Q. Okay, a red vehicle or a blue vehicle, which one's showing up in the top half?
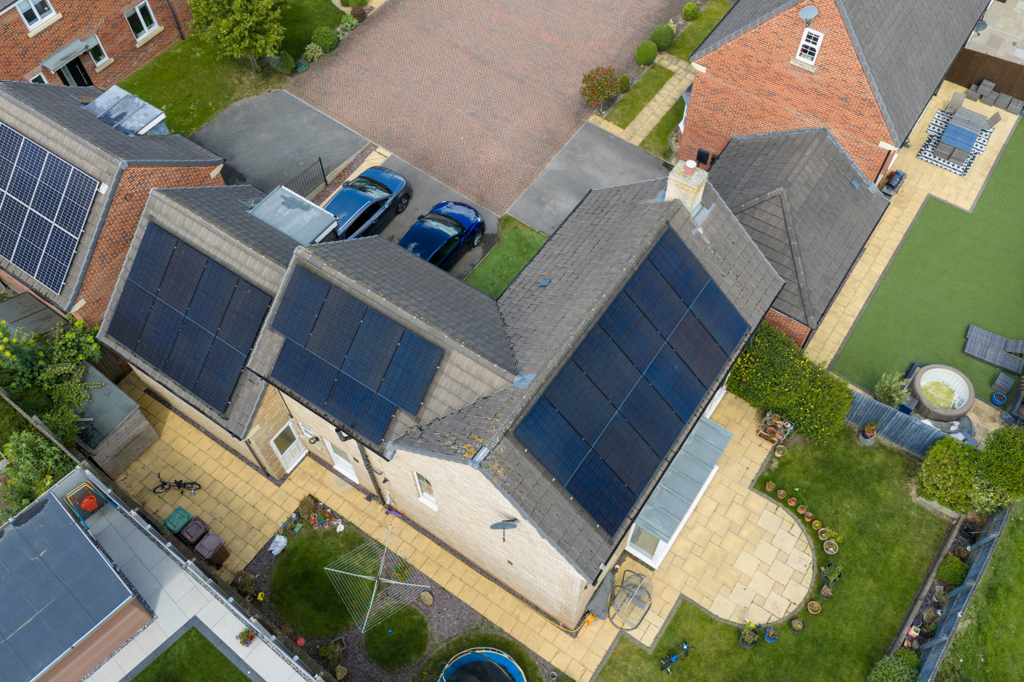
blue vehicle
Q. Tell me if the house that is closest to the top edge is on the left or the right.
left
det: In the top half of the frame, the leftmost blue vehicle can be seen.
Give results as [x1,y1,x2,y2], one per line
[317,164,412,234]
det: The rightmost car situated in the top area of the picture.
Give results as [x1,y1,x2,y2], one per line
[400,200,487,268]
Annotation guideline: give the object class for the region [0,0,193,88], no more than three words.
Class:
house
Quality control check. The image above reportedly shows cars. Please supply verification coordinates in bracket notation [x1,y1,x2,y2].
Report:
[317,164,412,234]
[400,200,487,268]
